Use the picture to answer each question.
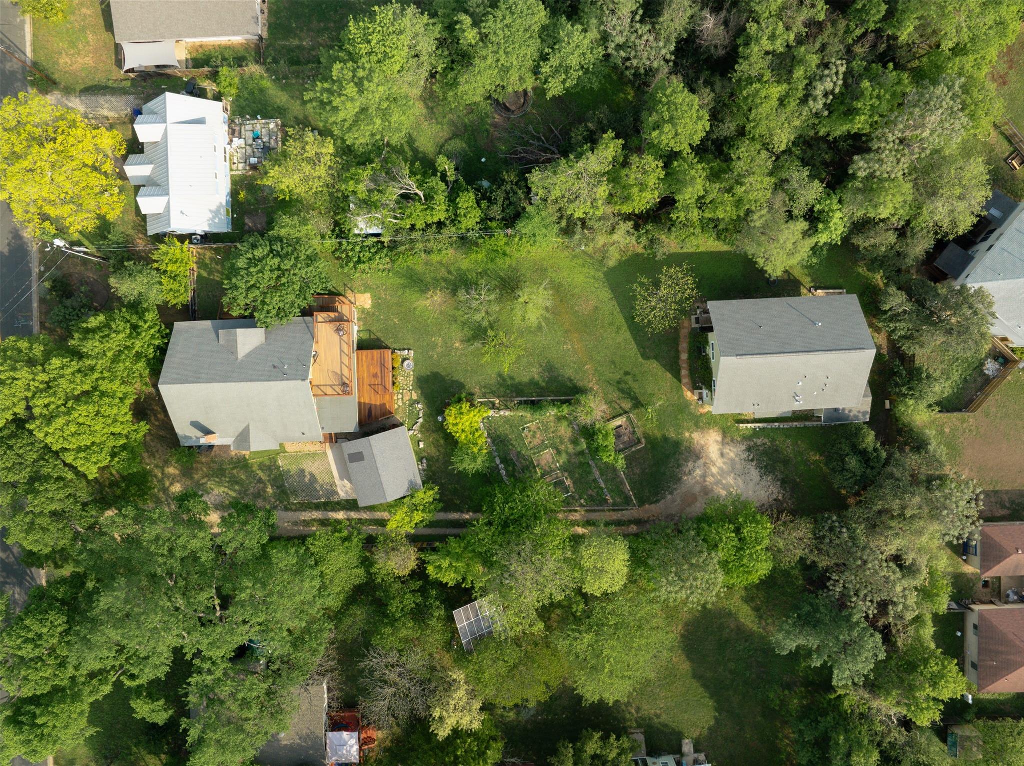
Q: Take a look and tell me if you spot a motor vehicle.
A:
No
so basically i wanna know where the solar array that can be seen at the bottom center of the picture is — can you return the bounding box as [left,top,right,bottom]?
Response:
[453,592,511,653]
